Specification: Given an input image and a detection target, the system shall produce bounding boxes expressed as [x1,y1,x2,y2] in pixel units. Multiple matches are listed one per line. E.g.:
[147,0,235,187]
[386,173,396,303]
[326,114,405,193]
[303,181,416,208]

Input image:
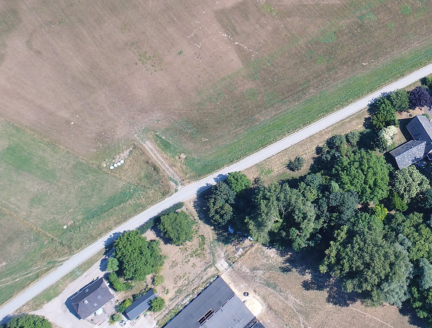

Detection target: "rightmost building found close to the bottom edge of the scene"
[161,276,254,328]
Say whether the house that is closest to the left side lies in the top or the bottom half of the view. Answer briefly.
bottom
